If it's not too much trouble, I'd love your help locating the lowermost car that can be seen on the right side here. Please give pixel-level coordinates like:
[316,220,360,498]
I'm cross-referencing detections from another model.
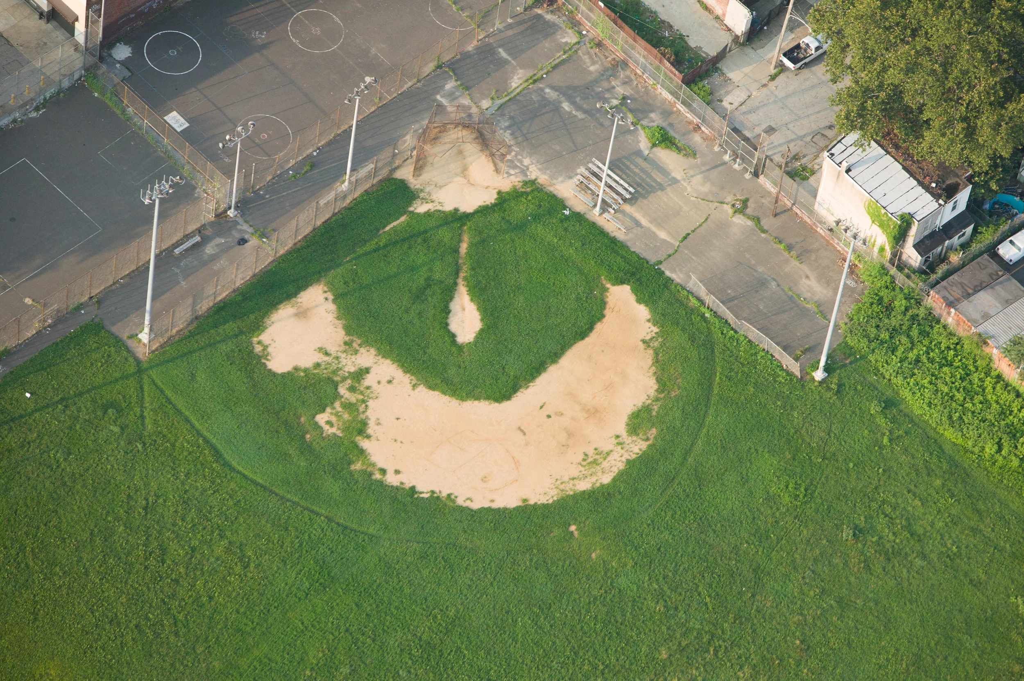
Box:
[998,231,1024,265]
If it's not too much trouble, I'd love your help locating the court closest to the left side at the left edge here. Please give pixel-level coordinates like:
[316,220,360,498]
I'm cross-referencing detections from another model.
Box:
[0,80,226,355]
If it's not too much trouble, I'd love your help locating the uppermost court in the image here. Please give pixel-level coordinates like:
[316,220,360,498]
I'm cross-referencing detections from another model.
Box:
[111,0,539,206]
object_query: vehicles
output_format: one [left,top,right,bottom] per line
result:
[998,231,1024,265]
[779,30,822,71]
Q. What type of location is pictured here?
sports ground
